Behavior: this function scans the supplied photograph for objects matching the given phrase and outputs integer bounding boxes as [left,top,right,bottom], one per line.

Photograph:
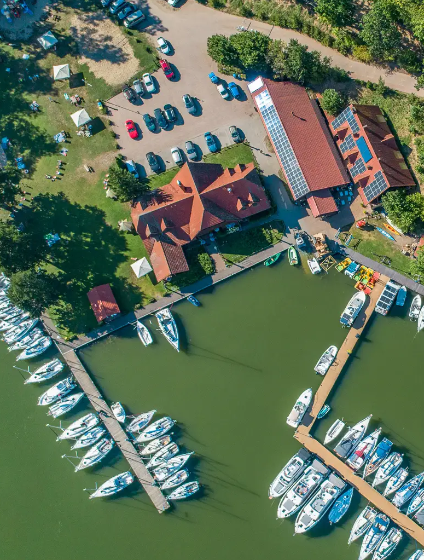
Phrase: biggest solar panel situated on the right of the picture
[255,90,309,198]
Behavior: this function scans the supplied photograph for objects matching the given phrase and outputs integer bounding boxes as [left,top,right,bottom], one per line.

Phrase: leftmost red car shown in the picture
[126,120,139,141]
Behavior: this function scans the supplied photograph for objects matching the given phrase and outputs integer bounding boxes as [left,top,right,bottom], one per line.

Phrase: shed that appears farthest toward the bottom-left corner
[87,284,120,322]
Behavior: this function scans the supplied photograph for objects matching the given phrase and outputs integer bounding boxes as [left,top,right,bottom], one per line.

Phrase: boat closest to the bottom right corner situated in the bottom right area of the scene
[407,546,424,560]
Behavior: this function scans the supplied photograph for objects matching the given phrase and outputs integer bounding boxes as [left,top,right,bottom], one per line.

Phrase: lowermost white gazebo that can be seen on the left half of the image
[131,257,153,281]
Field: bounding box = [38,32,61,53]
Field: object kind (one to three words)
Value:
gazebo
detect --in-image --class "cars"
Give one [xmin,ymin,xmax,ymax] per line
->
[123,9,147,29]
[143,73,157,94]
[124,159,141,176]
[164,105,177,123]
[171,147,185,166]
[126,120,139,141]
[147,152,161,173]
[109,0,128,14]
[143,114,157,133]
[185,141,198,161]
[230,125,241,144]
[123,85,138,104]
[166,0,180,7]
[155,36,172,56]
[203,132,218,154]
[161,58,177,81]
[153,108,169,130]
[216,84,229,101]
[227,81,241,101]
[133,80,146,98]
[117,5,138,22]
[182,94,197,116]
